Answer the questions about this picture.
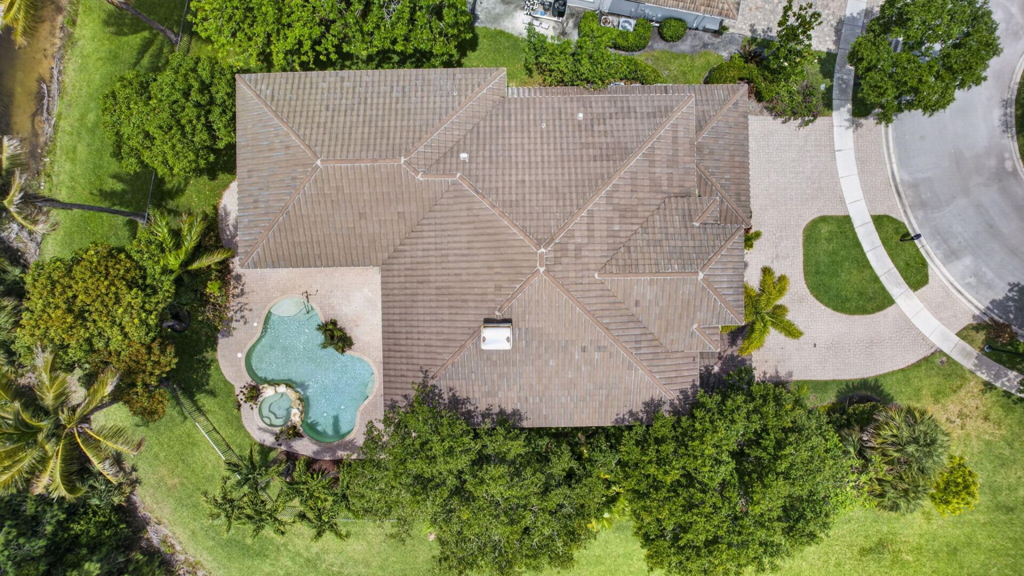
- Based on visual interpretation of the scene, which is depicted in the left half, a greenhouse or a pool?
pool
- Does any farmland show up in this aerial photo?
No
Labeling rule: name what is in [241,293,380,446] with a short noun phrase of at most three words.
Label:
swimming pool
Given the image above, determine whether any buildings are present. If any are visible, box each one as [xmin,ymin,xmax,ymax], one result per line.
[566,0,747,36]
[233,66,756,431]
